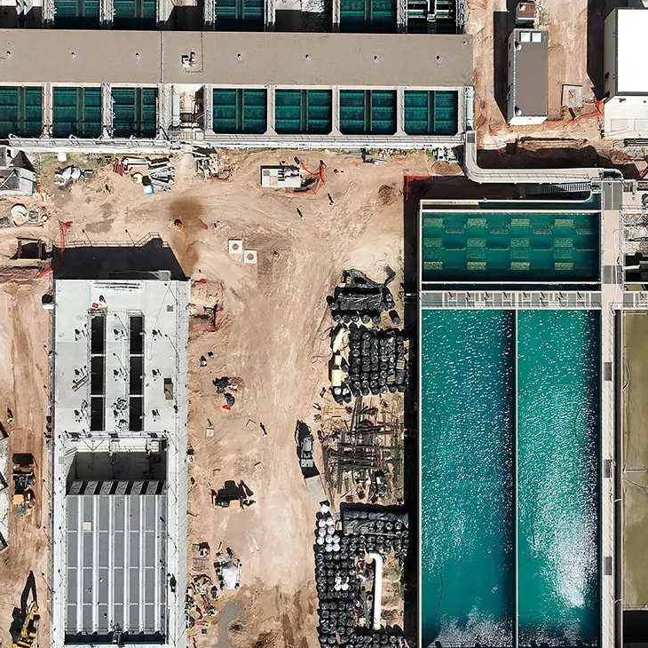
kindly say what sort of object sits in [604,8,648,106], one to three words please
building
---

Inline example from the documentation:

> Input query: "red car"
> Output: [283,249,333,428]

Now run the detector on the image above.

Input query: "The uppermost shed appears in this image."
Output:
[514,2,537,25]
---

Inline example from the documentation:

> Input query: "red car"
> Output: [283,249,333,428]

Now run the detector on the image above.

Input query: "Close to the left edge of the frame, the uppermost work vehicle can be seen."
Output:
[9,472,33,519]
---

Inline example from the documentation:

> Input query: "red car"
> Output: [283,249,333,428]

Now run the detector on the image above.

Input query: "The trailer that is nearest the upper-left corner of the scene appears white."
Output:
[260,166,301,188]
